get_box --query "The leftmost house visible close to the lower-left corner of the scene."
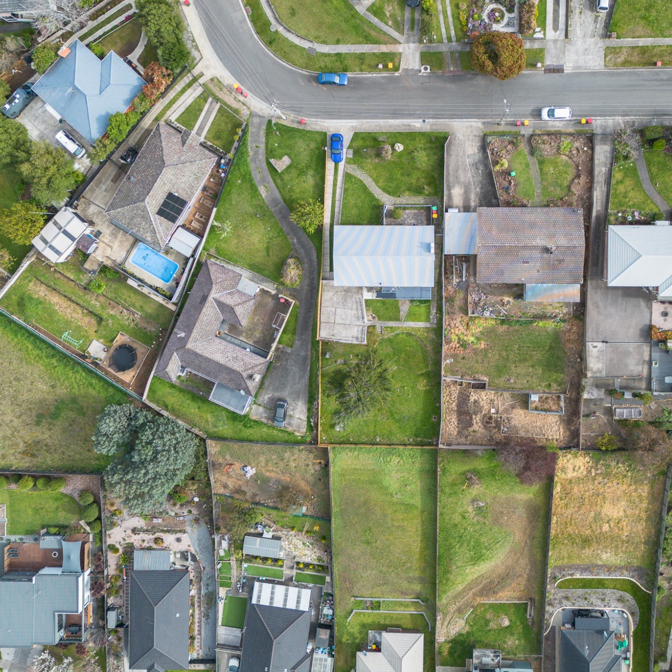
[0,537,97,649]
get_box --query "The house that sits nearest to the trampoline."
[151,259,270,415]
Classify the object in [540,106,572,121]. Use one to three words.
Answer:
car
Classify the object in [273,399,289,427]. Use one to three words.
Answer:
car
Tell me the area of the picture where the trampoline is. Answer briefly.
left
